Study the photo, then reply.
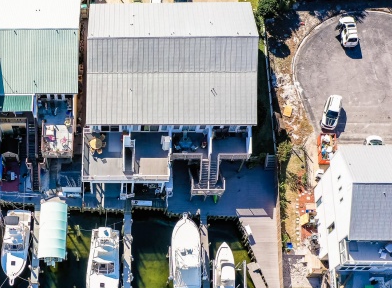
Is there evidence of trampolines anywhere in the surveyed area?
No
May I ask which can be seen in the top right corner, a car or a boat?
car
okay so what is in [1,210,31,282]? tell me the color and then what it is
white boat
